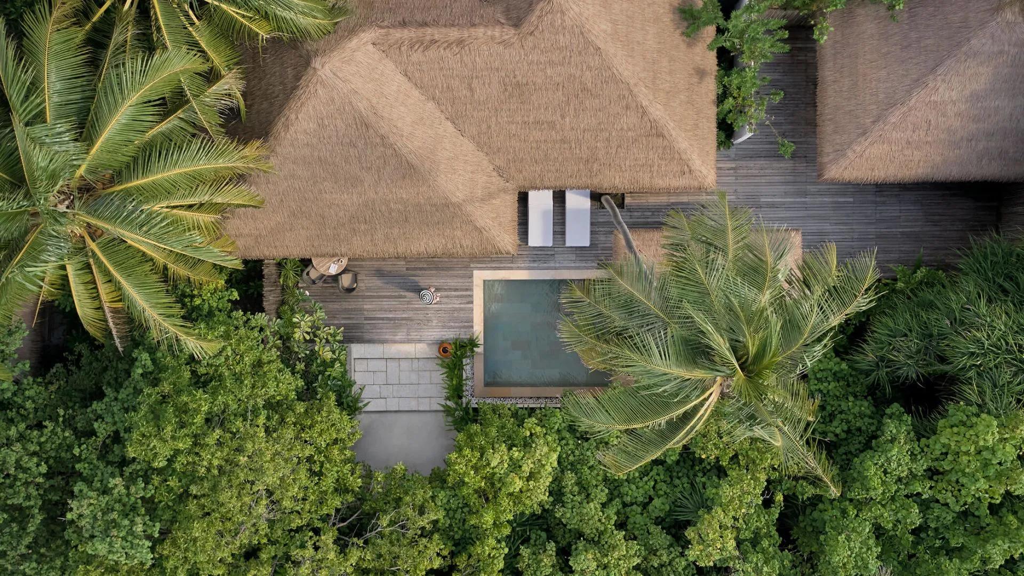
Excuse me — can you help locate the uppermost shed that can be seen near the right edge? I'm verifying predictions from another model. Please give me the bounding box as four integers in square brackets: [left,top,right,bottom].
[808,0,1024,191]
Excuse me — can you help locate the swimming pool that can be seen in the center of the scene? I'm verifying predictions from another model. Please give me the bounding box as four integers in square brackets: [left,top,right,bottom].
[474,271,620,397]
